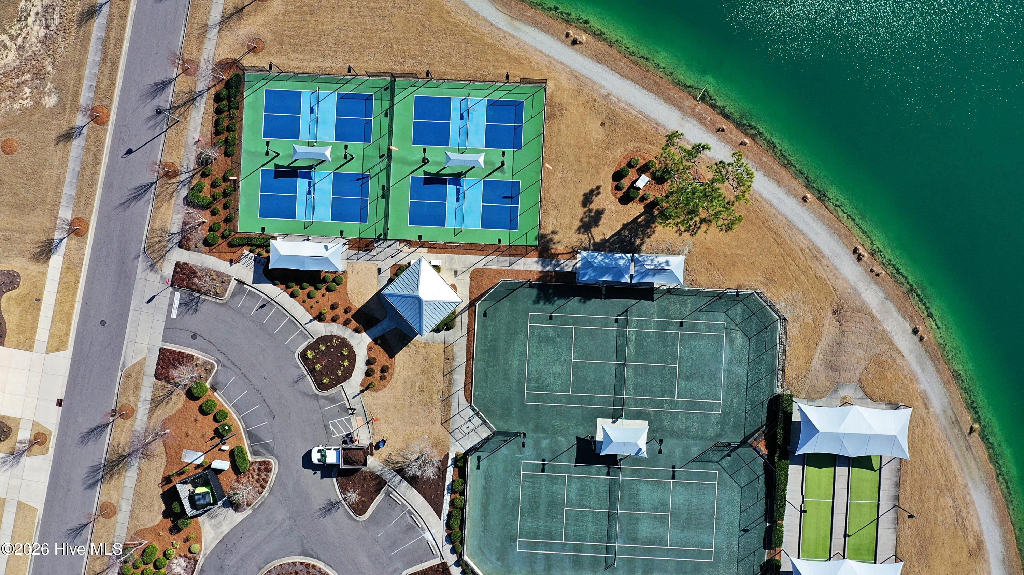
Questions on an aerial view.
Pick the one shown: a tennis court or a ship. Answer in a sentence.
This aerial view contains a tennis court.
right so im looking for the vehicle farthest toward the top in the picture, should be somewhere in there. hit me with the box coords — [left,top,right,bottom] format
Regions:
[313,443,371,468]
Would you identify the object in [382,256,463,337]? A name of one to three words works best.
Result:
gazebo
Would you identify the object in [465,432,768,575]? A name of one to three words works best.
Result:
tennis court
